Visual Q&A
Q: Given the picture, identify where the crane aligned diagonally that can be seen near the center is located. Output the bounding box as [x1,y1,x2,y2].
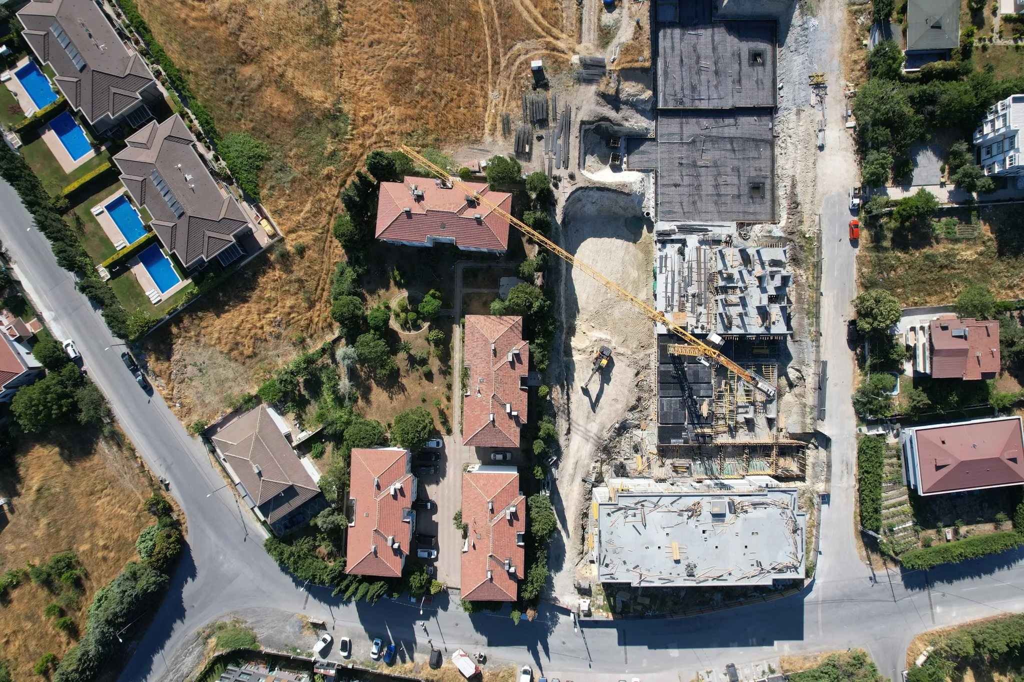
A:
[398,142,779,400]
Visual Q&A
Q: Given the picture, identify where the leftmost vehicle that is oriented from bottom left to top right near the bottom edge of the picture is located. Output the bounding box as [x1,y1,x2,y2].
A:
[313,634,331,655]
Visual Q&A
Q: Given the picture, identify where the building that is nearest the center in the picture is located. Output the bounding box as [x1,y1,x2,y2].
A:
[462,314,530,448]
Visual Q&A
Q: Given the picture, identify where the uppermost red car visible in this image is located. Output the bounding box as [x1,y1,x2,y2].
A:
[850,219,862,240]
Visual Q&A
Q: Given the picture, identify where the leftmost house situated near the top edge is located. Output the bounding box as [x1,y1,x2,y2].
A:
[16,0,169,131]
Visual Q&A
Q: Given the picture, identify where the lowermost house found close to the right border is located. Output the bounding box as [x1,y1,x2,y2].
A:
[891,413,1024,495]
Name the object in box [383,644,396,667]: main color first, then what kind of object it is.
blue vehicle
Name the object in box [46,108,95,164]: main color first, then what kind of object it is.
blue swimming pool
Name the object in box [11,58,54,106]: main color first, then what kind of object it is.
blue swimming pool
